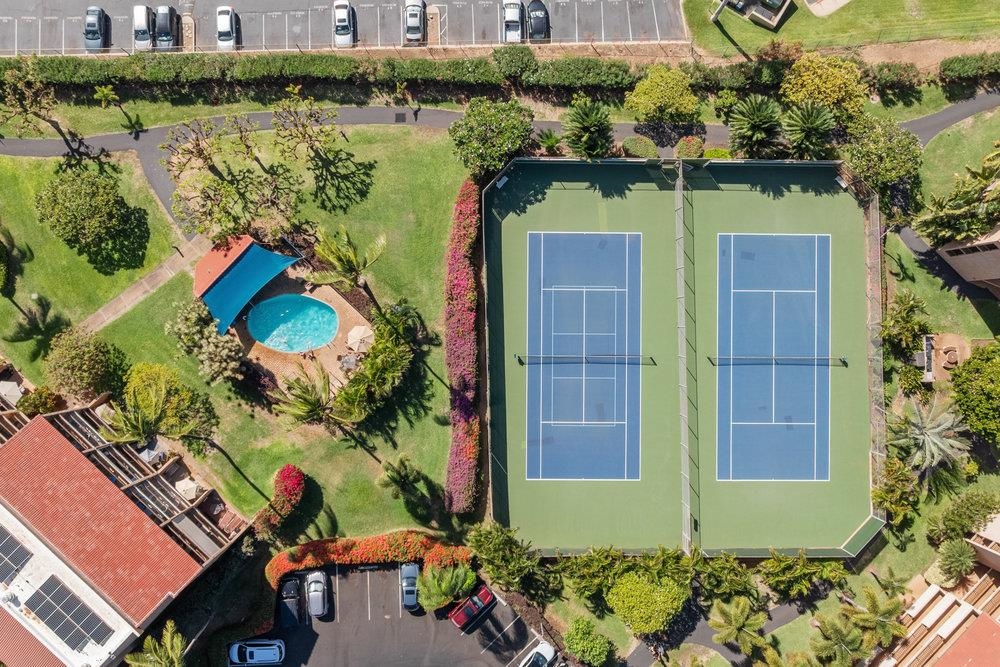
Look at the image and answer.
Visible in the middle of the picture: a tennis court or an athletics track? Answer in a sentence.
Looking in the middle of the picture, you will find a tennis court.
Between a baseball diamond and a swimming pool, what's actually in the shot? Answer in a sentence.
Visible in the photo is a swimming pool.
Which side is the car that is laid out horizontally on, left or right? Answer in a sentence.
The car that is laid out horizontally sits on the left side.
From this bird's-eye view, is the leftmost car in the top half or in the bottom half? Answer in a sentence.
Seen from above, the leftmost car lies in the top half of the view.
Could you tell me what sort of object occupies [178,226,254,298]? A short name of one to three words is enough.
building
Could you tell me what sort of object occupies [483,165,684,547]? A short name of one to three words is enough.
tennis court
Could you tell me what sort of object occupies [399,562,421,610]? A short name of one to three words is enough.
car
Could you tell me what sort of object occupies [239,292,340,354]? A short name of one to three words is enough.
swimming pool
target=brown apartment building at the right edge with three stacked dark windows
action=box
[938,193,1000,300]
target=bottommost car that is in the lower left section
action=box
[231,640,285,666]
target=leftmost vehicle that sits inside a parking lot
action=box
[82,4,108,55]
